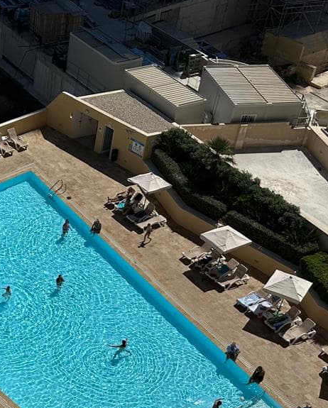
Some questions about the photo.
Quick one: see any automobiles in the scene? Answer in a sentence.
No, the scene contains no automobile.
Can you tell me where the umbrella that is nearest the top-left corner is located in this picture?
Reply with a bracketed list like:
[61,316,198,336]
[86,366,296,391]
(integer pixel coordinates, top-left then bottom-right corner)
[127,172,173,204]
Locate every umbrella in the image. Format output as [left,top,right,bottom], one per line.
[260,272,312,314]
[198,227,252,271]
[127,172,173,204]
